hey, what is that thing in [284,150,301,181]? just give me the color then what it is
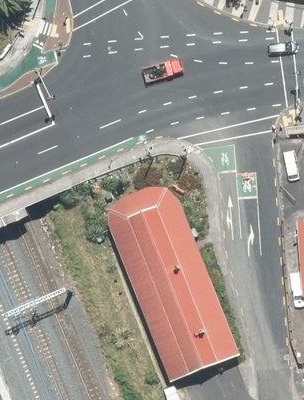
white vehicle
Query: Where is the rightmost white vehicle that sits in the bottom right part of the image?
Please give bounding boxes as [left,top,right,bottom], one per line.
[290,274,304,308]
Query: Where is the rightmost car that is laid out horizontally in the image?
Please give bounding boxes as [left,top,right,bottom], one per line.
[268,40,299,56]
